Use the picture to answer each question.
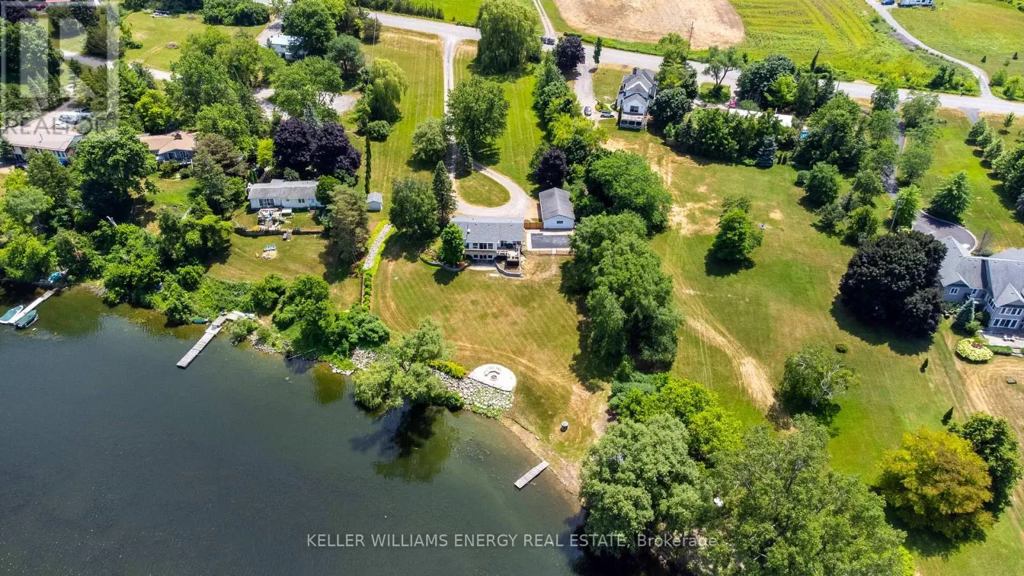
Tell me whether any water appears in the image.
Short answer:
Yes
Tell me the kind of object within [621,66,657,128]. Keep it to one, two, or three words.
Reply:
house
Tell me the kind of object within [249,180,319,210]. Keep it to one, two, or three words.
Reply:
house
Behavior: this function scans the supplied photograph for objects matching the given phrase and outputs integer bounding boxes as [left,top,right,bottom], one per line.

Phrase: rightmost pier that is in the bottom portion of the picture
[515,462,549,489]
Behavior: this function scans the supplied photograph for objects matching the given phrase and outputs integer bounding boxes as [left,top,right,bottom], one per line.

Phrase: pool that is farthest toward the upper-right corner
[531,234,576,248]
